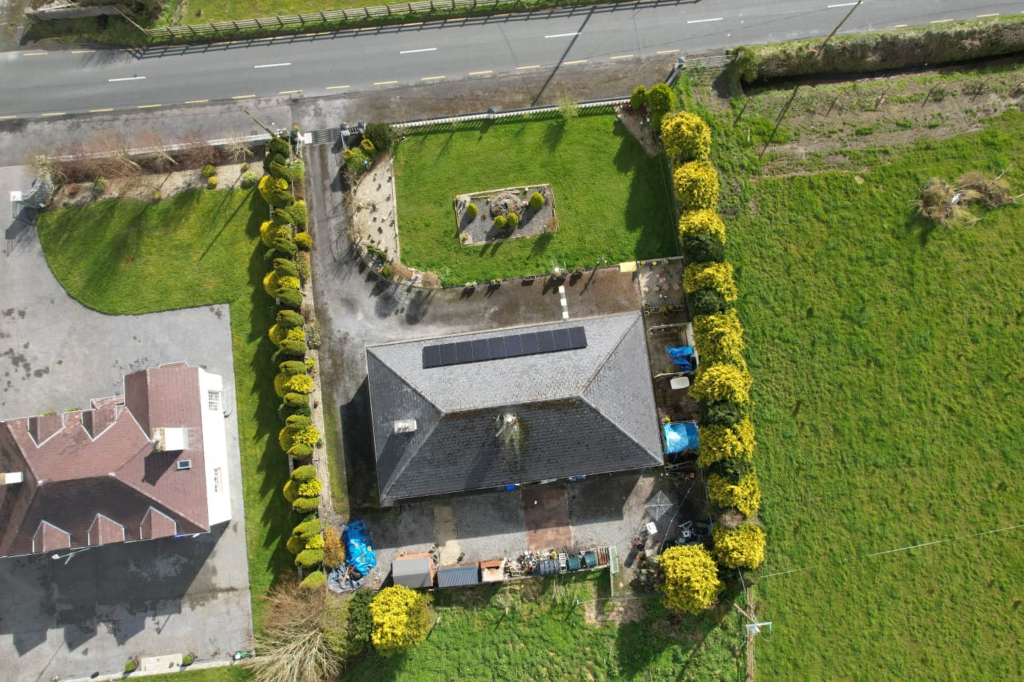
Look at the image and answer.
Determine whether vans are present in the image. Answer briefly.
No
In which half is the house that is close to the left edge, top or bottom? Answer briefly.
bottom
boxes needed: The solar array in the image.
[423,328,587,368]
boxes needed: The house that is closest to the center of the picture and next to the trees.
[366,311,665,505]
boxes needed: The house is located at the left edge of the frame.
[0,361,233,559]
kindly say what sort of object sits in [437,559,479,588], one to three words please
shed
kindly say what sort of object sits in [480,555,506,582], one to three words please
building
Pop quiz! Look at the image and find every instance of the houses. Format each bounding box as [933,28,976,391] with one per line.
[366,311,665,505]
[0,361,233,559]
